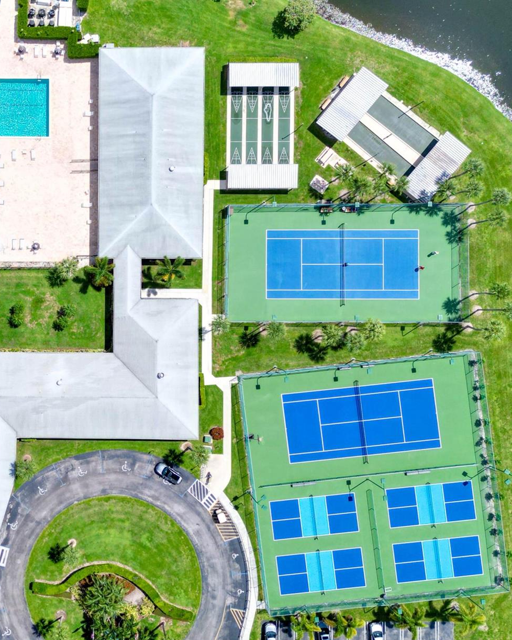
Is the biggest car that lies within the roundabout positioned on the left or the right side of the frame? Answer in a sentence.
The biggest car that lies within the roundabout is on the left side of the image.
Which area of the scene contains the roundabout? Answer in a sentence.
The roundabout appears toward the bottom left of the photo.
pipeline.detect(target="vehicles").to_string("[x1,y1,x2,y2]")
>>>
[317,620,330,640]
[153,463,184,485]
[369,621,384,640]
[263,621,277,640]
[215,508,227,526]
